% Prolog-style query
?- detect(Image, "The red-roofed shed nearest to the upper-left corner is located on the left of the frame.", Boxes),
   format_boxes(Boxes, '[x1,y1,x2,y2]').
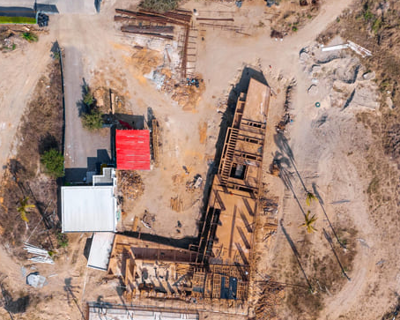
[116,129,150,169]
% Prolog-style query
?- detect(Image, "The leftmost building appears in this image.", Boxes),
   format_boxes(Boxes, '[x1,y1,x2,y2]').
[61,167,119,233]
